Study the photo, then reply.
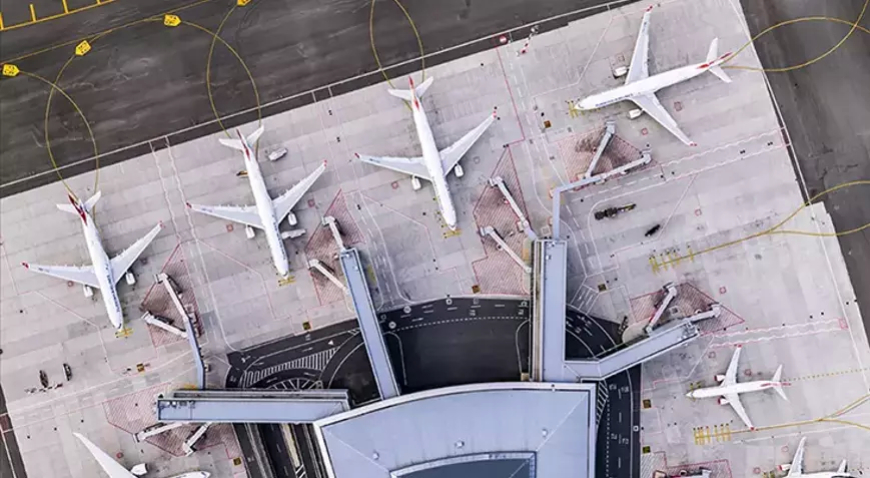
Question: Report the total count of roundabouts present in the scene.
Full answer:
The picture shows no roundabouts.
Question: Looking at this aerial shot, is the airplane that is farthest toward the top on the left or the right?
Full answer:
The airplane that is farthest toward the top sits on the right side.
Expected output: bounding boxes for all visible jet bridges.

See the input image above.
[155,276,193,318]
[602,152,650,183]
[481,229,534,274]
[184,422,217,455]
[489,180,531,229]
[684,303,721,323]
[133,422,192,442]
[307,261,351,295]
[586,125,613,180]
[141,314,192,340]
[644,284,675,335]
[322,216,349,252]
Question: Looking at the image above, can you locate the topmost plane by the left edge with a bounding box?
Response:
[23,190,157,330]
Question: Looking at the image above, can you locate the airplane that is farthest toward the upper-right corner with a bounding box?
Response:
[575,11,717,146]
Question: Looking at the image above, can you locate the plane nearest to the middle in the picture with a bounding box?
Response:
[359,87,495,229]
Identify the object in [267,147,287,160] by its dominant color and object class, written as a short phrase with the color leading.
white vehicle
